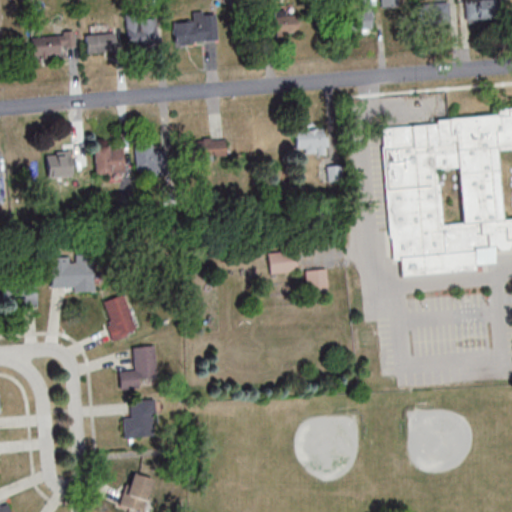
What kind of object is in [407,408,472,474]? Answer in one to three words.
baseball field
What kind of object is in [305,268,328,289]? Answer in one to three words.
building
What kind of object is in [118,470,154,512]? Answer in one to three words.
house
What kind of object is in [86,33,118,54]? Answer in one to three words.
house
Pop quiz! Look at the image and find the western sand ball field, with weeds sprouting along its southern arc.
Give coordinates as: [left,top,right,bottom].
[294,415,359,482]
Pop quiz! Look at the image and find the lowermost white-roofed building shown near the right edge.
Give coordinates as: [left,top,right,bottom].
[384,109,512,278]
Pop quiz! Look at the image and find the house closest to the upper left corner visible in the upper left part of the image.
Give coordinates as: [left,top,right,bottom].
[32,32,75,56]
